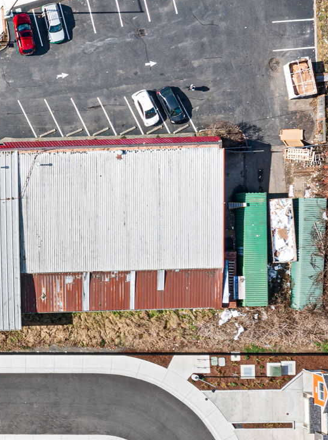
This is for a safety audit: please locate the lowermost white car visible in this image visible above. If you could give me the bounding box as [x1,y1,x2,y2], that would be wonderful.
[132,88,160,128]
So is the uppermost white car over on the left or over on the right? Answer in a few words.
left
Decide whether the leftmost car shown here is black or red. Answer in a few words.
red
